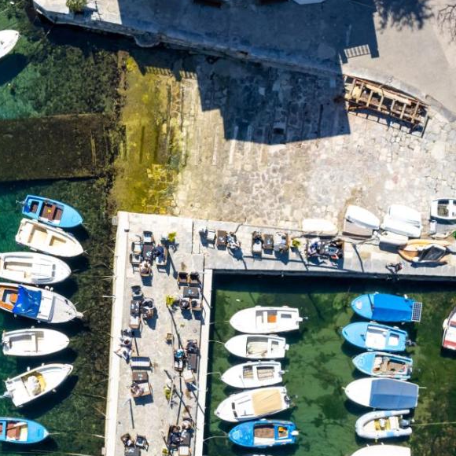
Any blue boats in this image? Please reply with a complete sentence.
Yes, there's a blue boat here.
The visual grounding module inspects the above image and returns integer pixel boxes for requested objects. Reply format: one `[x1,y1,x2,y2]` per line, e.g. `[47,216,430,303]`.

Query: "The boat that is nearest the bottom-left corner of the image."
[0,418,59,445]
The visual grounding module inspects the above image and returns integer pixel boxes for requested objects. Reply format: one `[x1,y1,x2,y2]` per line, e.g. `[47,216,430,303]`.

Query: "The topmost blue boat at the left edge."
[16,196,112,227]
